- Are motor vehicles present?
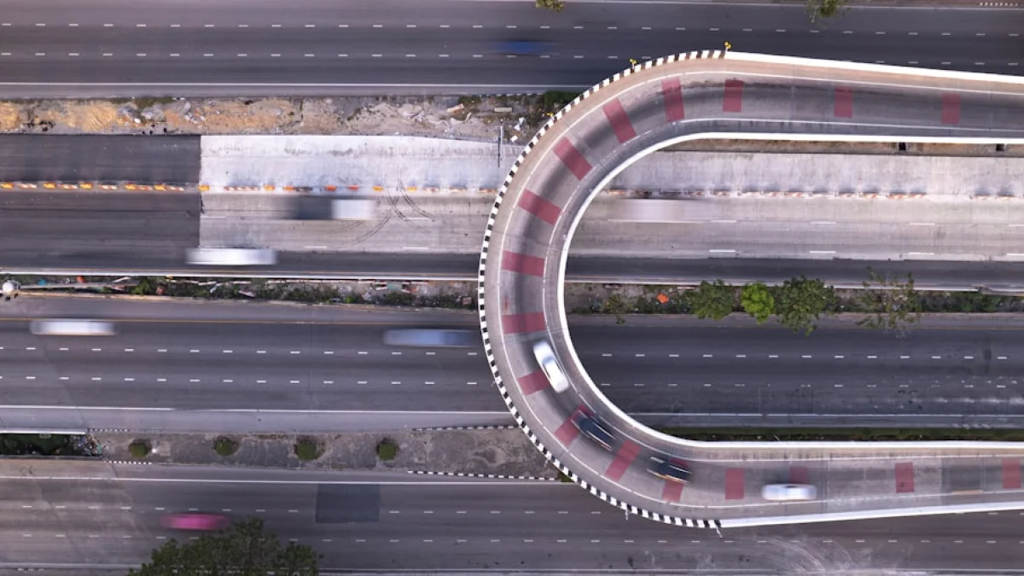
Yes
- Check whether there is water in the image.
No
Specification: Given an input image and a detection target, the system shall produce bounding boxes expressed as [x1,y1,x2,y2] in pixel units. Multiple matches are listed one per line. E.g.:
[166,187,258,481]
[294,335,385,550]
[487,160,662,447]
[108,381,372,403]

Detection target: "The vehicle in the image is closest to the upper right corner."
[620,199,697,223]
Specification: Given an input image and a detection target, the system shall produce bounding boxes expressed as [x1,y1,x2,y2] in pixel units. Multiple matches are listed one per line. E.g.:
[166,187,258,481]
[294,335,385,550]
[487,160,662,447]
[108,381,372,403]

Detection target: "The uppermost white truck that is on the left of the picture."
[294,196,374,221]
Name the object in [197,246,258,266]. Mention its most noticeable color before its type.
white vehicle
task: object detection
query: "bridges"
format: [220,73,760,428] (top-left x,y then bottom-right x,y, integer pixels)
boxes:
[478,51,1024,528]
